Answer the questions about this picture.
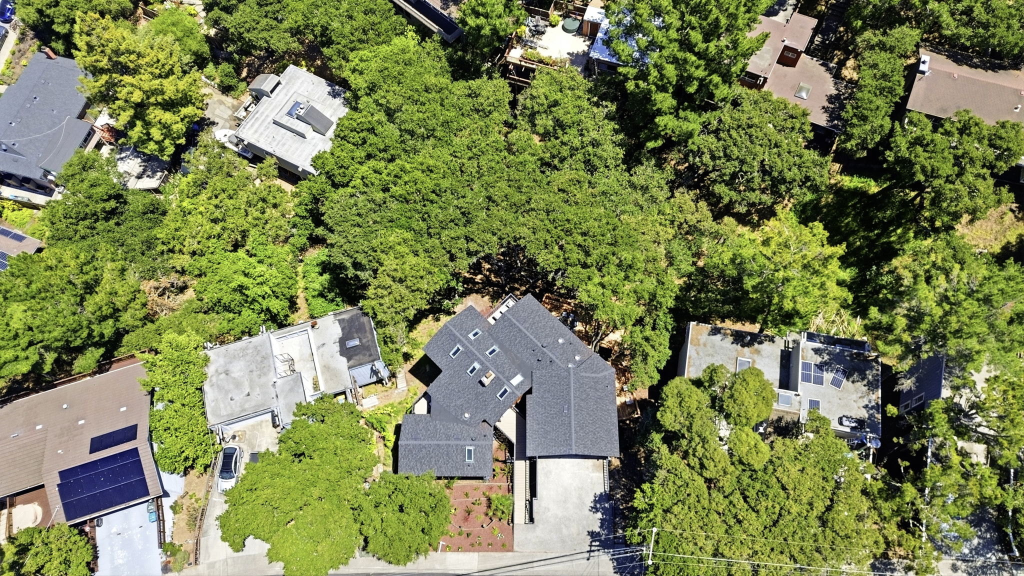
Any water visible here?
No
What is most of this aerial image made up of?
trees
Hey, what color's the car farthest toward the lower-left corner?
white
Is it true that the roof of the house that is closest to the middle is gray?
Yes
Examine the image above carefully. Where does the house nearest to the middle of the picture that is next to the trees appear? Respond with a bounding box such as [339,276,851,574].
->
[398,293,619,478]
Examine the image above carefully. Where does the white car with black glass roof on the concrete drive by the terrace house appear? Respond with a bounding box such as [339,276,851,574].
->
[210,441,239,496]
